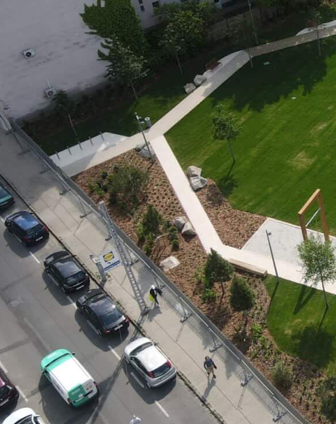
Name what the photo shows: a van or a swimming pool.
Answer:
van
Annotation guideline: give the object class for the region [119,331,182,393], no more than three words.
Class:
car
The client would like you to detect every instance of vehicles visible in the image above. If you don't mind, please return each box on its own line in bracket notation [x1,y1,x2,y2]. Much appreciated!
[37,241,96,298]
[1,204,53,251]
[37,348,104,418]
[0,174,19,212]
[119,331,182,393]
[0,360,23,414]
[0,401,46,424]
[72,282,134,343]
